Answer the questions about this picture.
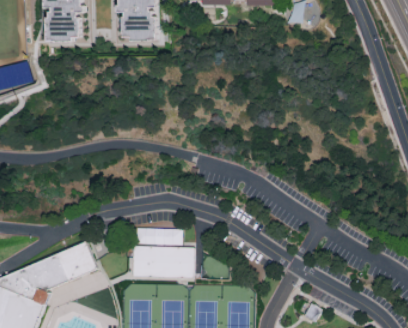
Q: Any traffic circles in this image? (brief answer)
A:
No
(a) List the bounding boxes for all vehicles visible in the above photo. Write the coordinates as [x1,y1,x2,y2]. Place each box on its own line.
[238,240,244,250]
[252,222,259,230]
[244,214,254,226]
[240,211,249,222]
[244,248,253,258]
[257,224,264,232]
[250,250,258,261]
[230,204,240,217]
[235,208,245,220]
[254,252,264,264]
